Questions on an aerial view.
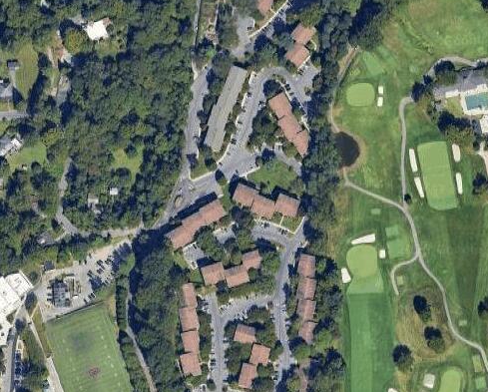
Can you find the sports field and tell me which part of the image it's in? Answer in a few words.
bottom left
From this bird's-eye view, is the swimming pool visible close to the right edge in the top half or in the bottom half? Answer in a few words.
top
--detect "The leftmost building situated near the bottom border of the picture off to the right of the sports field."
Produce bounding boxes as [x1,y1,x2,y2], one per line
[178,283,202,375]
